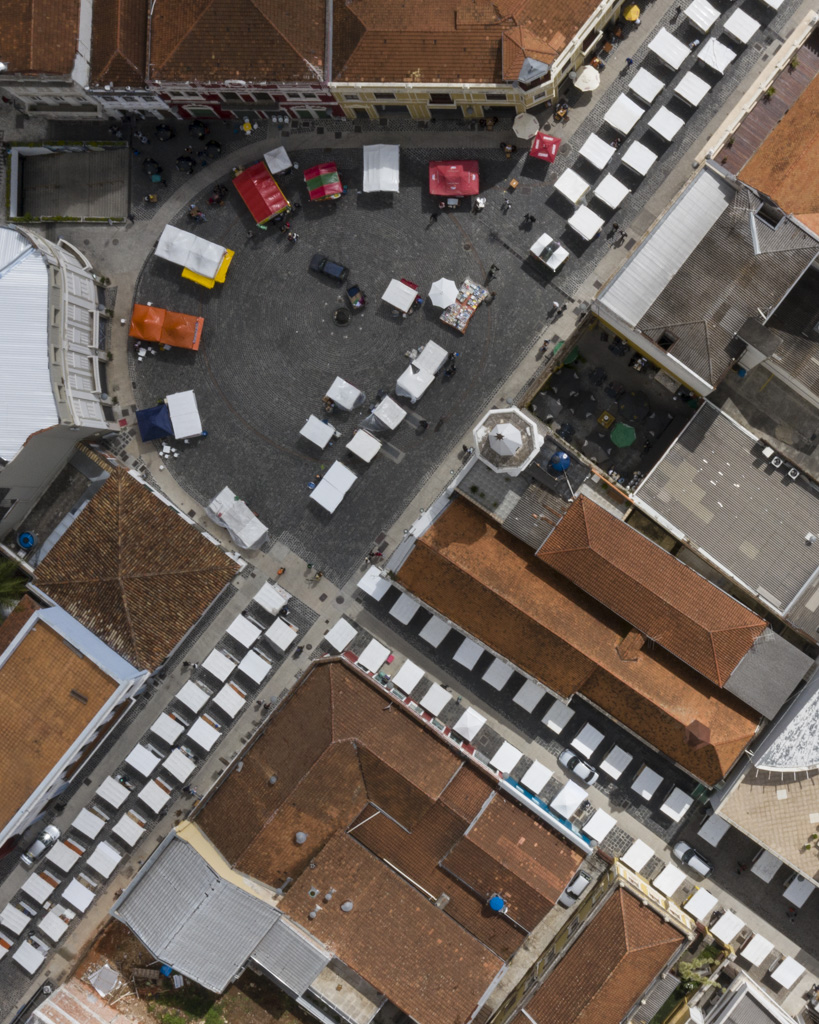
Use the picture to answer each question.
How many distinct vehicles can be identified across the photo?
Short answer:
5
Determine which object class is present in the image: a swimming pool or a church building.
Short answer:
church building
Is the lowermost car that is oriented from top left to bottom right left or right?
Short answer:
right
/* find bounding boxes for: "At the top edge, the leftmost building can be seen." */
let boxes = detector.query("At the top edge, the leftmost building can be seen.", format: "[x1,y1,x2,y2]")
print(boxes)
[0,0,118,121]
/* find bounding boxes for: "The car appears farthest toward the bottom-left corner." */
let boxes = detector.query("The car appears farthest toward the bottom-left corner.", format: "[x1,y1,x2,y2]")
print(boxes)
[20,821,65,869]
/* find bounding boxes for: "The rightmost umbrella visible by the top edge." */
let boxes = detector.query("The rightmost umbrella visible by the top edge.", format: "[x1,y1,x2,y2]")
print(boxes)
[624,5,641,25]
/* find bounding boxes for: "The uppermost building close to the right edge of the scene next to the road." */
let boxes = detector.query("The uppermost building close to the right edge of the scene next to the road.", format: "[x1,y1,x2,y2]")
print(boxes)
[680,2,819,241]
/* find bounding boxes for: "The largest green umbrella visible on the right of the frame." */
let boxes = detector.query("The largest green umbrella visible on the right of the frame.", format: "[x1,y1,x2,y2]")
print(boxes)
[611,423,635,447]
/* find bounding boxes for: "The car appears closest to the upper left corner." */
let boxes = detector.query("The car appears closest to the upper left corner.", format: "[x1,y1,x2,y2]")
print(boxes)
[308,255,349,283]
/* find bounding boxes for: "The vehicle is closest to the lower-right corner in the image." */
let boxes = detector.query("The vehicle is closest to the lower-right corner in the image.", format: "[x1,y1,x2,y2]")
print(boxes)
[668,837,715,877]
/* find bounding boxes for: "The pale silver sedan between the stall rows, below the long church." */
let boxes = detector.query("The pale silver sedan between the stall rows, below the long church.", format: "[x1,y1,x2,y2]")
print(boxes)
[554,745,602,786]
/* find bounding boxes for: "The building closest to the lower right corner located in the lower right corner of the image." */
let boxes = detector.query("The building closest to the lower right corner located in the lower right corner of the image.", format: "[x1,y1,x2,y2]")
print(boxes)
[679,957,801,1024]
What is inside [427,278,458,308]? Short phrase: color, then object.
white umbrella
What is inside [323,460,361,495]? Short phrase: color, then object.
white tent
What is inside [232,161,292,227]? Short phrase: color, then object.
red tent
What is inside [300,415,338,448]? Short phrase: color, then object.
white tent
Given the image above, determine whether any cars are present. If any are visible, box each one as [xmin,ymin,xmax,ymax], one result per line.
[554,745,602,786]
[20,821,65,869]
[308,255,349,283]
[668,837,715,877]
[558,864,595,907]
